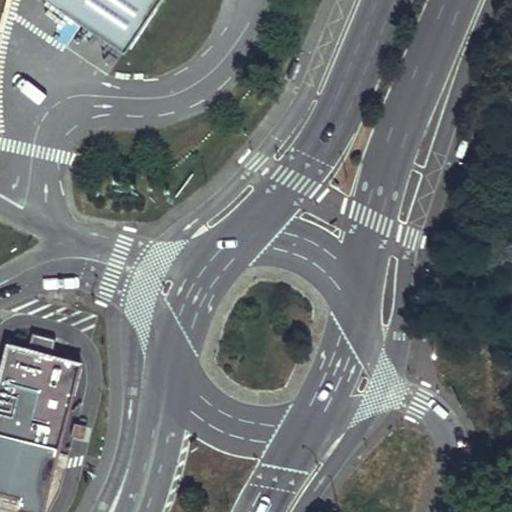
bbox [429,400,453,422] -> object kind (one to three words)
vehicle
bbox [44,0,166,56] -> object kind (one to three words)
building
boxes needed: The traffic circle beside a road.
[164,209,352,462]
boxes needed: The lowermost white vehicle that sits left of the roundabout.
[42,277,80,290]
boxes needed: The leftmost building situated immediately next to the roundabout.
[0,335,82,512]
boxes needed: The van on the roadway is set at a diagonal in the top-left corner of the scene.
[13,74,48,104]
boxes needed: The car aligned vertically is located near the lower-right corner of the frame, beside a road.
[454,425,466,446]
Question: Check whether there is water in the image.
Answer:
No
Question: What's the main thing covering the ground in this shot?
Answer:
paved ground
